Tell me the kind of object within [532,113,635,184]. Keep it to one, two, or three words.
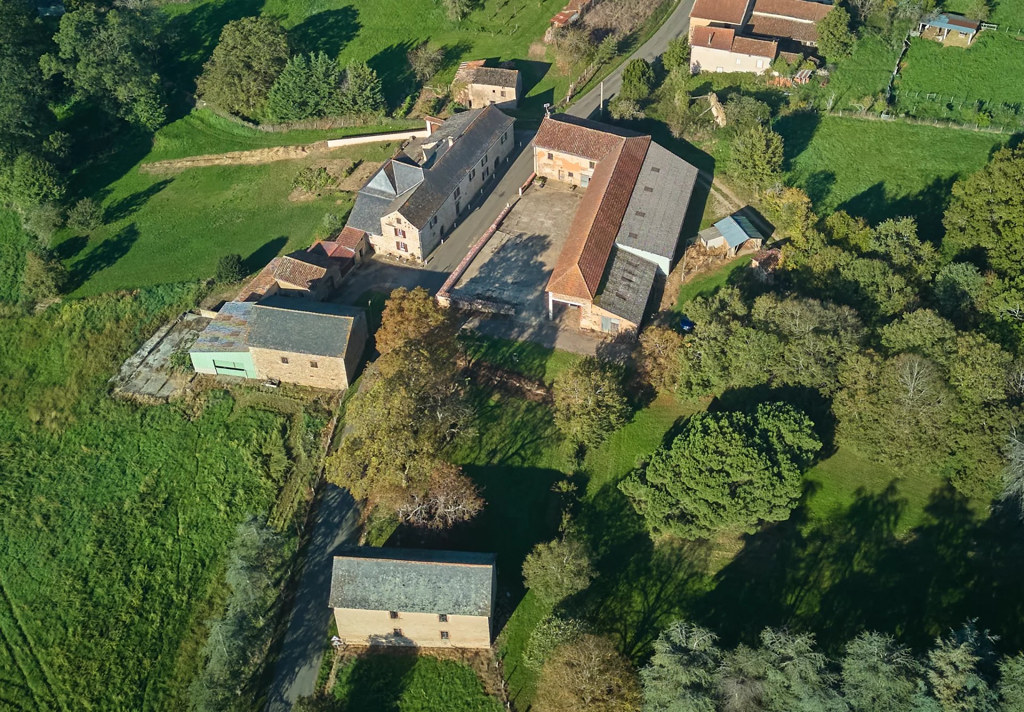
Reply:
house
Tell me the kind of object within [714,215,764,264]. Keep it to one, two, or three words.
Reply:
shed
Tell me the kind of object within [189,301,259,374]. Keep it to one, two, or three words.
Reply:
shed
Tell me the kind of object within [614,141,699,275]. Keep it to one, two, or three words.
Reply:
barn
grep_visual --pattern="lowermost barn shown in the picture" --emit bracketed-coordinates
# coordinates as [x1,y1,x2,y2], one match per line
[329,545,498,648]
